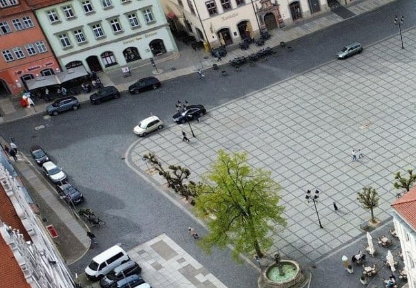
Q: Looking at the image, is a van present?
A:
Yes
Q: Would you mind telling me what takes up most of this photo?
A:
paved ground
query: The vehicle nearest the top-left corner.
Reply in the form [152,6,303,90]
[44,91,80,113]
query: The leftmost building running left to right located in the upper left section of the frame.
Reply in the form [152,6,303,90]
[31,0,175,69]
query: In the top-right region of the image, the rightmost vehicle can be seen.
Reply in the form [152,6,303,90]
[335,39,364,57]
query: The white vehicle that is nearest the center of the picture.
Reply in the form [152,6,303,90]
[132,115,164,134]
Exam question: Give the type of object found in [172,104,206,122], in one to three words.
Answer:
car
